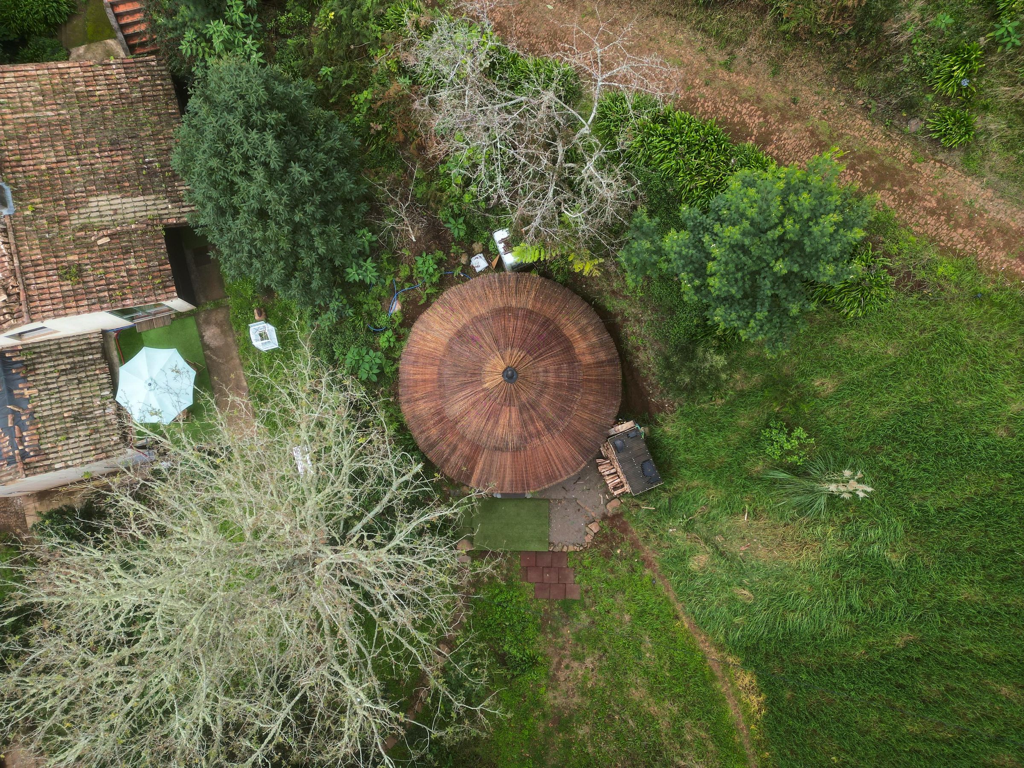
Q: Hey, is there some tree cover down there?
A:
Yes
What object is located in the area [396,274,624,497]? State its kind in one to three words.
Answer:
shed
